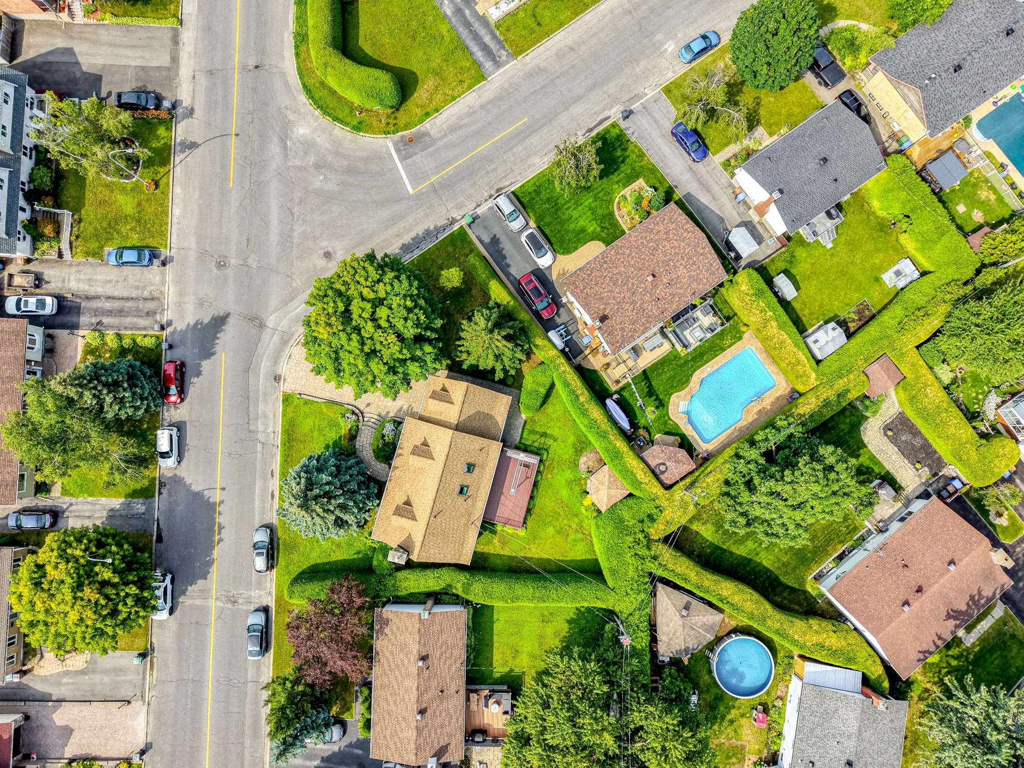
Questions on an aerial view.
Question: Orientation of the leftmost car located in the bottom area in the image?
horizontally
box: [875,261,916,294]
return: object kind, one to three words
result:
shed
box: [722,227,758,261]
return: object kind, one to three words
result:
trailer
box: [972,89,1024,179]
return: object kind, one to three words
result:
swimming pool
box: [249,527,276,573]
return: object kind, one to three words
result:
car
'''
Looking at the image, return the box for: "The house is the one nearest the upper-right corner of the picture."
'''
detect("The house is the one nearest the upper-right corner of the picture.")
[854,0,1024,148]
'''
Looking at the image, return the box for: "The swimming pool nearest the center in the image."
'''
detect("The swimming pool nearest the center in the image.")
[678,346,778,444]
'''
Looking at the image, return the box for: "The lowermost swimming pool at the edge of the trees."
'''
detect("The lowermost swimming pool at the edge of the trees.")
[696,627,776,701]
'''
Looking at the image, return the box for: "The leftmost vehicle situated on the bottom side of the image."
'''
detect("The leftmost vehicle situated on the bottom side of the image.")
[6,508,56,533]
